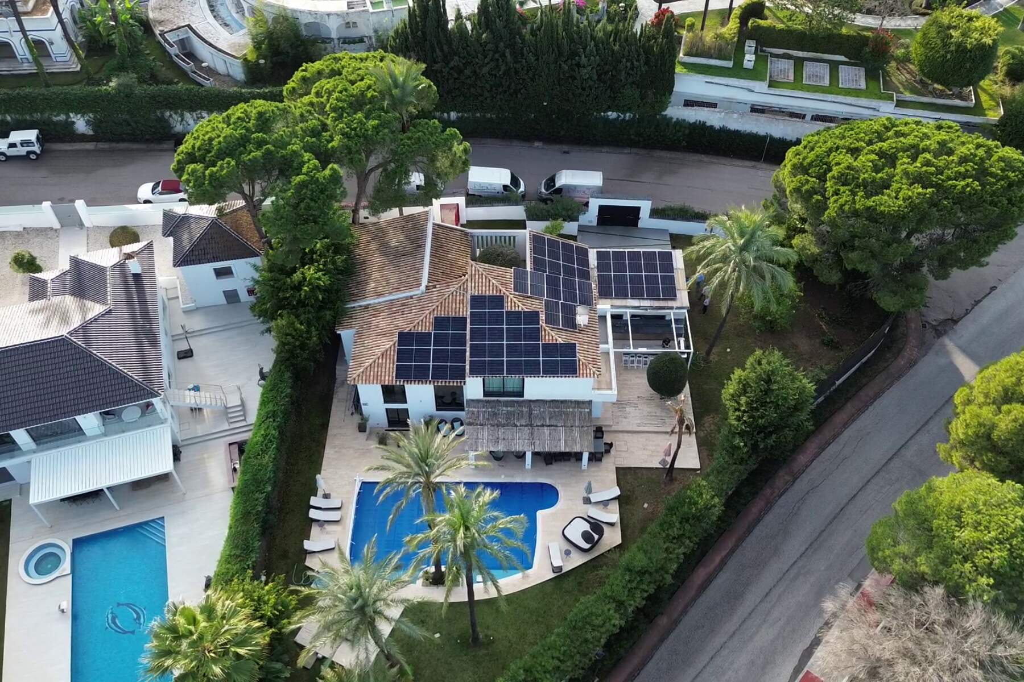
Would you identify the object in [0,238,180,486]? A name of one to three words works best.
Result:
house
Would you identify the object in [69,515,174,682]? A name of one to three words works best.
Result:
swimming pool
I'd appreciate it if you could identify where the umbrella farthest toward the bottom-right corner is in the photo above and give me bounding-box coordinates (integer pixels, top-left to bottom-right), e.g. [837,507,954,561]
[657,446,673,468]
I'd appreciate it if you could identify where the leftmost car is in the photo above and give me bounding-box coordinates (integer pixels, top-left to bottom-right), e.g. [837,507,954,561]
[134,180,188,200]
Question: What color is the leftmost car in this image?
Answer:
white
